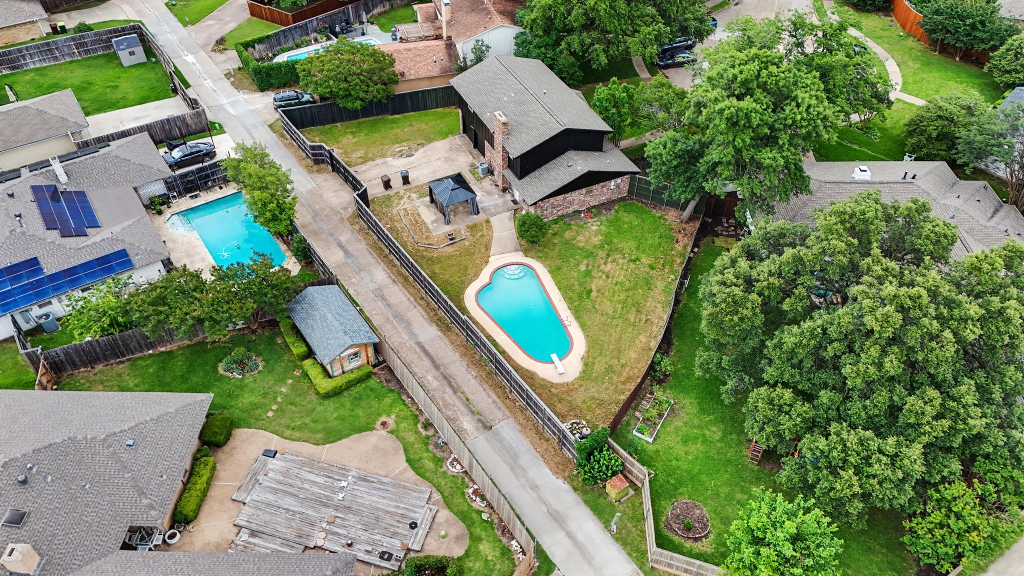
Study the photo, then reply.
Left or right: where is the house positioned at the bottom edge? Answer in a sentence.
The house positioned at the bottom edge is on the left side of the image.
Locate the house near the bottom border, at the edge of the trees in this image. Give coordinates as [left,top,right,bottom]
[0,390,364,576]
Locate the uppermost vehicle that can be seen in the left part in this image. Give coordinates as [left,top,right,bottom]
[271,85,315,108]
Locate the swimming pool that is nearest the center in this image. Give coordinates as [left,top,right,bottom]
[474,261,573,363]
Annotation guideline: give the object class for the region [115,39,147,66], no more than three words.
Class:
shed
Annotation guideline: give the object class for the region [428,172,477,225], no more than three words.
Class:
gazebo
